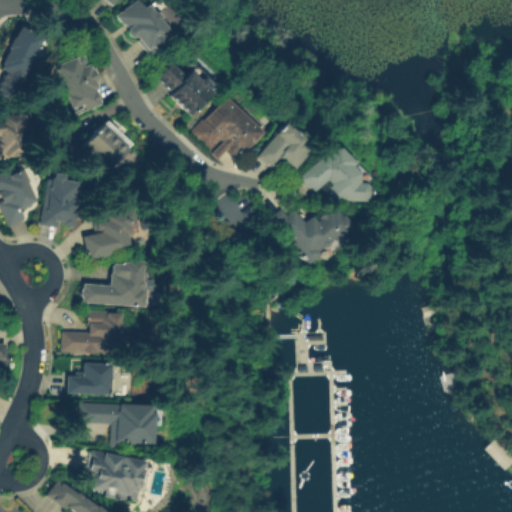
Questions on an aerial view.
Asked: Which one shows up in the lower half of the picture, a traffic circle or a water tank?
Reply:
traffic circle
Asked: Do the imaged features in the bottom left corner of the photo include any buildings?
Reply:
Yes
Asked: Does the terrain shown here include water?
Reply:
Yes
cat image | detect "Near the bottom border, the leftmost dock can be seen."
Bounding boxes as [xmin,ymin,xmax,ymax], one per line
[278,318,351,512]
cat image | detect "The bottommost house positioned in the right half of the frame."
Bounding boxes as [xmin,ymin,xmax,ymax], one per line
[275,206,354,264]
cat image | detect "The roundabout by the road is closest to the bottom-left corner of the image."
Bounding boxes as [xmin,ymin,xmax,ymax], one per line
[0,437,48,494]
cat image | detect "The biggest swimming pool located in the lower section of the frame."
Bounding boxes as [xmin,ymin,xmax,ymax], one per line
[151,472,166,496]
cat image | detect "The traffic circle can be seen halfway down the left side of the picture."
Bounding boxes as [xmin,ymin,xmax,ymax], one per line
[10,246,60,300]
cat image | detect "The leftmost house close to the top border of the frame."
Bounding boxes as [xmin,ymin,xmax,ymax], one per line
[0,26,44,99]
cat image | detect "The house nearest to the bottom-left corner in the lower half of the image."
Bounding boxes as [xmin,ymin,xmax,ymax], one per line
[45,480,106,512]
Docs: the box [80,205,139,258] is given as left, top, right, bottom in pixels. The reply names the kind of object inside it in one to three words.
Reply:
house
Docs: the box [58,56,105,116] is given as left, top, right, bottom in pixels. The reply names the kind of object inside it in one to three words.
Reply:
house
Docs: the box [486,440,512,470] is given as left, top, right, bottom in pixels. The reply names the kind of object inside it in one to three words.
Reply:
pier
